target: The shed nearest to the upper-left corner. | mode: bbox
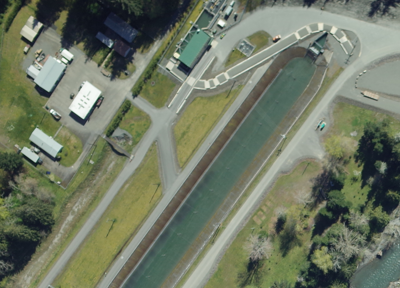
[20,17,45,41]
